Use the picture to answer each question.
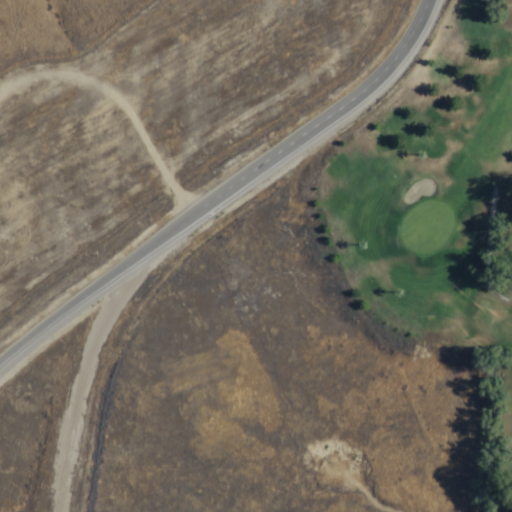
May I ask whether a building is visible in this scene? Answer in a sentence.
No, this view has no building in it.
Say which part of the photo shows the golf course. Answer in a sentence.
The golf course sits in the right section of the image.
